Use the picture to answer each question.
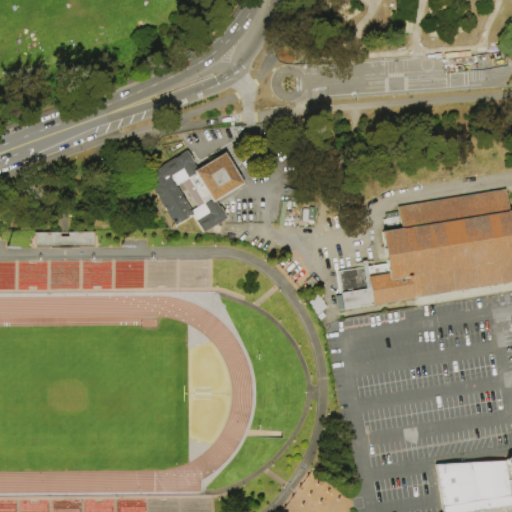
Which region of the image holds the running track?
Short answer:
bottom left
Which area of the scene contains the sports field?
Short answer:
bottom left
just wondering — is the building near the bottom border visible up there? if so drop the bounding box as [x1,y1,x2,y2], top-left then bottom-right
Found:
[436,457,512,512]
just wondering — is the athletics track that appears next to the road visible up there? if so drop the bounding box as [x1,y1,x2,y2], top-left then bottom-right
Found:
[0,292,254,495]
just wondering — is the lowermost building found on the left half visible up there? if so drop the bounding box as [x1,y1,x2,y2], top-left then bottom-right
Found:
[36,232,96,247]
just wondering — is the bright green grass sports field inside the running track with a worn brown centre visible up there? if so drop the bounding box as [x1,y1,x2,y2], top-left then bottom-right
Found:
[0,316,231,470]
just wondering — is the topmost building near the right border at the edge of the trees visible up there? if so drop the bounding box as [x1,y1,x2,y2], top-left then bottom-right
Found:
[372,188,512,306]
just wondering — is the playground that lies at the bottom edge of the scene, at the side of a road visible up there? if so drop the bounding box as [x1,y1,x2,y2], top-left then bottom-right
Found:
[284,468,356,512]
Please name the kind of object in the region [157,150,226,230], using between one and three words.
building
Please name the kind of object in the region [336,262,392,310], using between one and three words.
building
